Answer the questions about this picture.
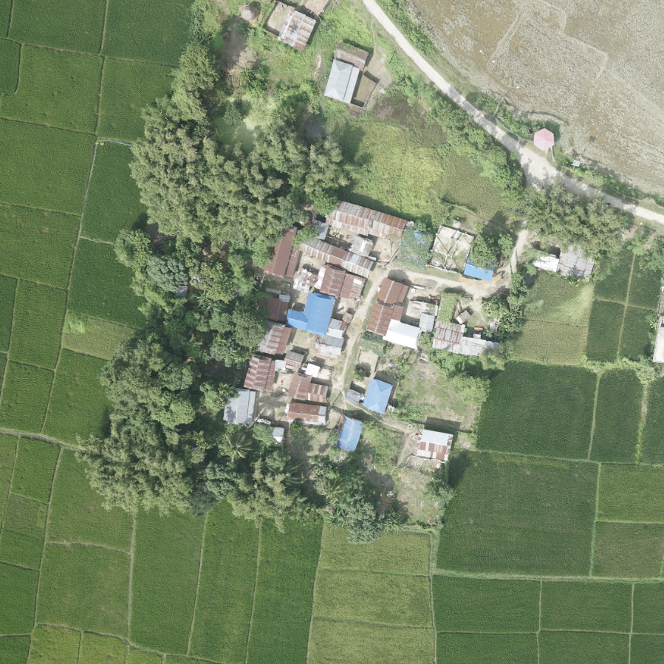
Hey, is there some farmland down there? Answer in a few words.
Yes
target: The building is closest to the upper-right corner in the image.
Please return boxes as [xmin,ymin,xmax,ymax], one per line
[535,129,553,152]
